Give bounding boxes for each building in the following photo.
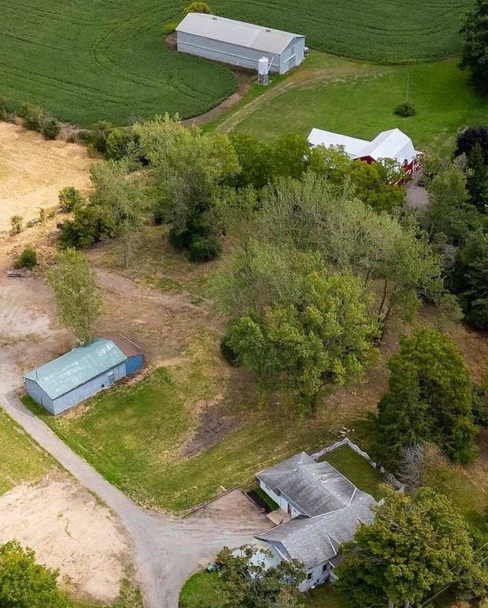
[175,12,308,75]
[298,129,431,180]
[253,452,377,589]
[22,338,144,417]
